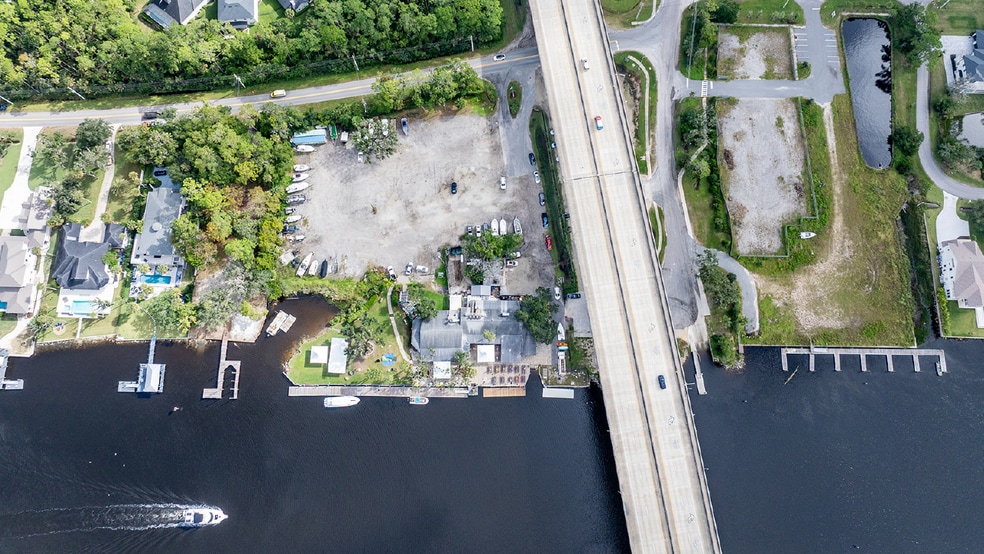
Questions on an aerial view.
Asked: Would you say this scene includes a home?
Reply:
Yes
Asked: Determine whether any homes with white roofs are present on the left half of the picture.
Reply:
Yes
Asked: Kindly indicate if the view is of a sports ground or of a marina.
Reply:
marina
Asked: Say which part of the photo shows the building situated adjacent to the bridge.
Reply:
center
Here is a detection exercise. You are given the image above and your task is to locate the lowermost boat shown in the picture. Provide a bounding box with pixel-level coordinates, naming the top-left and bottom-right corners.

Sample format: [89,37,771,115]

[183,509,229,523]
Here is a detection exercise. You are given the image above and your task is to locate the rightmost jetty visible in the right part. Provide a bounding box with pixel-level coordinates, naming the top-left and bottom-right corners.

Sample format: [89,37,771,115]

[780,339,947,373]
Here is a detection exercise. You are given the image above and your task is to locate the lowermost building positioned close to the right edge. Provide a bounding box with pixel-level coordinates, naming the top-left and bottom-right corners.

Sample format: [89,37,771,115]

[934,237,984,307]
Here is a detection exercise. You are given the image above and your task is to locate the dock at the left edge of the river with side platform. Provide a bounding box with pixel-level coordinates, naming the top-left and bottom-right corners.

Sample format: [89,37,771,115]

[0,349,28,390]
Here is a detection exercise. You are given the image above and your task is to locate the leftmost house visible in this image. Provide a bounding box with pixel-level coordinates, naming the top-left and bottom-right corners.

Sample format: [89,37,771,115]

[0,193,53,313]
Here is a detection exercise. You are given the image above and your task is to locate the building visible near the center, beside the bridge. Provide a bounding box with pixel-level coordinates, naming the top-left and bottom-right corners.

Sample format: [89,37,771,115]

[411,295,536,363]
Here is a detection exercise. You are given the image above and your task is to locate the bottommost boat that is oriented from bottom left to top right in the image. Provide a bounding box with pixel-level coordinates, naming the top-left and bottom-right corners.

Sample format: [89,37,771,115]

[268,311,286,334]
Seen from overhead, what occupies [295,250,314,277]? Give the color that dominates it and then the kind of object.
white boat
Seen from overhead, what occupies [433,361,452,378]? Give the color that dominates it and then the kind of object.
white tent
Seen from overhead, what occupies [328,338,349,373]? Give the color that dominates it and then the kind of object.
white tent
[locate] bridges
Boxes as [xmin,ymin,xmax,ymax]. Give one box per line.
[529,0,724,554]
